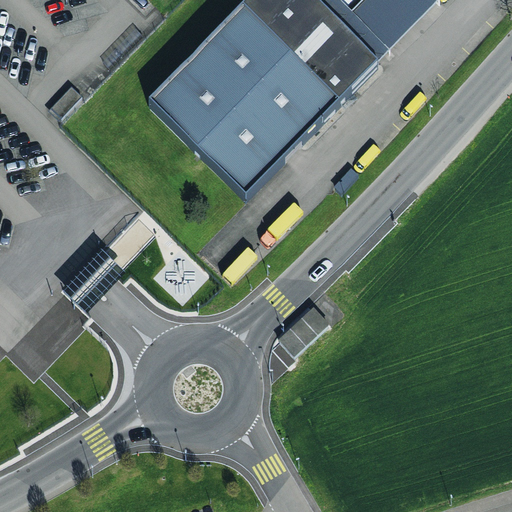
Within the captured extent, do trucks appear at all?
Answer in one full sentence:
Yes, a truck appears in the view.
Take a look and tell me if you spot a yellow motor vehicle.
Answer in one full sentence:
Yes, a yellow motor vehicle can be made out from above.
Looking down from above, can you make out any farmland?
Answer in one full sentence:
Yes, farmland can be seen from above here.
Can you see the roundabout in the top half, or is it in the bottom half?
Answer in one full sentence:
Seen from above, the roundabout lies in the bottom half of the view.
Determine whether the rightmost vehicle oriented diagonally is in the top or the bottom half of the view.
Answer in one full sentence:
The rightmost vehicle oriented diagonally is in the top half of the image.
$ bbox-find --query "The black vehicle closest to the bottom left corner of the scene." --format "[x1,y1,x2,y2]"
[128,429,152,442]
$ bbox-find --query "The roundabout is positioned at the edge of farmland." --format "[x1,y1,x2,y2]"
[132,324,262,453]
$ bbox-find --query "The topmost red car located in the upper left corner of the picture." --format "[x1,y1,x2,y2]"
[44,0,65,14]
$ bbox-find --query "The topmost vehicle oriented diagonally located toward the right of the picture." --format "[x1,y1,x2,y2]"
[400,94,426,122]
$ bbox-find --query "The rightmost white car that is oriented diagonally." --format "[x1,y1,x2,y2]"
[310,262,332,282]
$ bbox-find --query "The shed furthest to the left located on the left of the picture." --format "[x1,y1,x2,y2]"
[50,87,82,122]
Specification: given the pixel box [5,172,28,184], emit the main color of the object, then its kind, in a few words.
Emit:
black vehicle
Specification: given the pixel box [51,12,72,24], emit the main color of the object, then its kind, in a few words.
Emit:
black vehicle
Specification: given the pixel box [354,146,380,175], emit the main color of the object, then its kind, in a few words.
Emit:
yellow vehicle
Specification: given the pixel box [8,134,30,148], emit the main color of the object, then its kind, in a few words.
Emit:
black car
